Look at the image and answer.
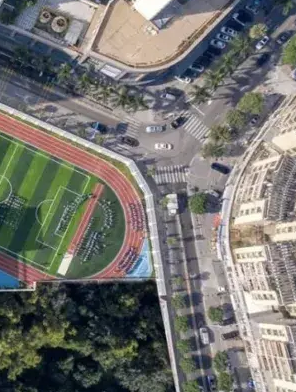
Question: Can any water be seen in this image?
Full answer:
No, the picture contains no water.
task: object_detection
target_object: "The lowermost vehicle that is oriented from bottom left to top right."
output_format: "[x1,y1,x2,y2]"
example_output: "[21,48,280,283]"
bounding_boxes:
[170,115,188,131]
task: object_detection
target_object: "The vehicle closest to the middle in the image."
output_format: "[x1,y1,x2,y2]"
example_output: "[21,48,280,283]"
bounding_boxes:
[166,193,179,218]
